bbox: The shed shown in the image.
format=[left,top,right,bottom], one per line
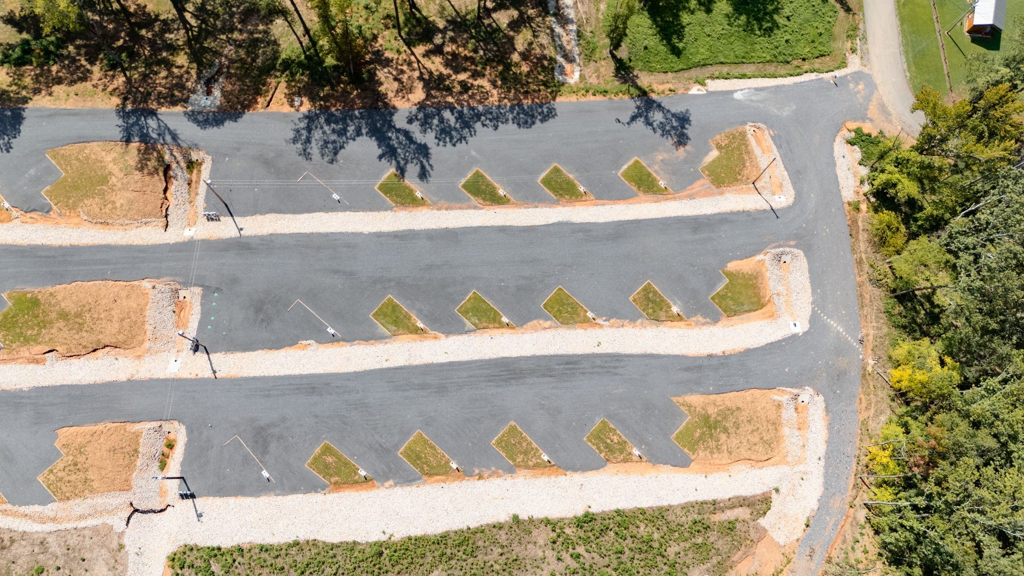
[958,0,1007,37]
